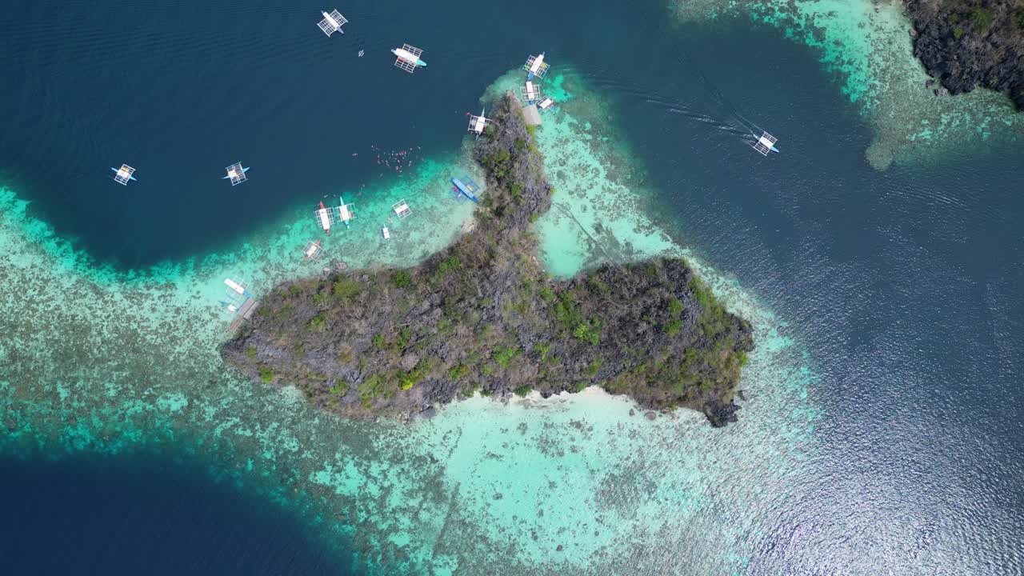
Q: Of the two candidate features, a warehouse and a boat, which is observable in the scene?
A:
boat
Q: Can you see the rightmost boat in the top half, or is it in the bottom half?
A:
top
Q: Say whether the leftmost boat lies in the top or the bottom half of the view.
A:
top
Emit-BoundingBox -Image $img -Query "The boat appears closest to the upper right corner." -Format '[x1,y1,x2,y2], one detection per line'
[752,131,781,156]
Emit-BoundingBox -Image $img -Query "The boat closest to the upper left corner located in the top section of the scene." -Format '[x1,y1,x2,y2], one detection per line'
[109,163,136,186]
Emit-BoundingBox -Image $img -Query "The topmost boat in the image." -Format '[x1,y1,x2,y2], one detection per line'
[316,8,349,38]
